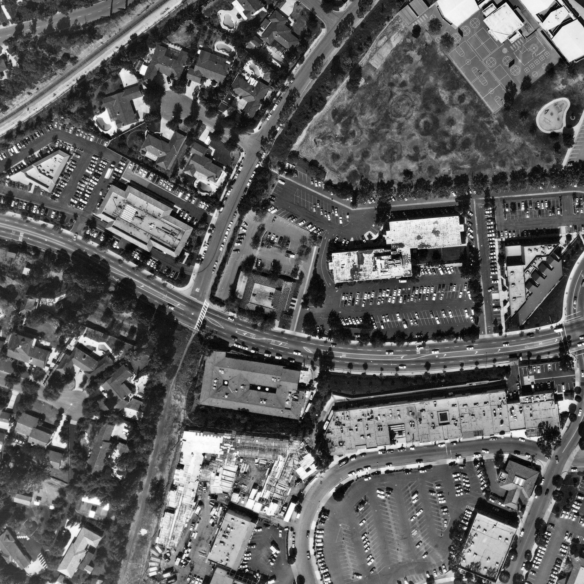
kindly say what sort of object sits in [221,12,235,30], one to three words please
swimming pool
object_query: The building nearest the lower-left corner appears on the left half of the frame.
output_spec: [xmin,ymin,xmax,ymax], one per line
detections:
[0,525,36,571]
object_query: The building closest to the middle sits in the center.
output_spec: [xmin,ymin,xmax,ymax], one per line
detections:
[235,272,297,321]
